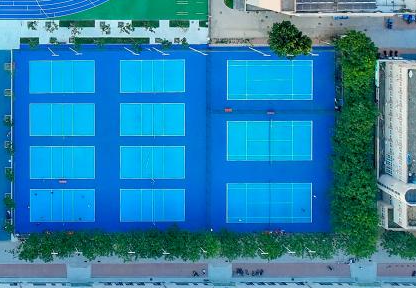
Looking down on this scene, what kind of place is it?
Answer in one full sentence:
The picture captures a sports ground.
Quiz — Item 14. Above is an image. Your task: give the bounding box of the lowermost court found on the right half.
[227,183,313,223]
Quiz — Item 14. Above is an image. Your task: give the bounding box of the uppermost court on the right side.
[227,60,313,100]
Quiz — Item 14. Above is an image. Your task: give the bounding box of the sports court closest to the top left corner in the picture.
[29,60,95,93]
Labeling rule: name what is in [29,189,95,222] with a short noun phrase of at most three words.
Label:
sports court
